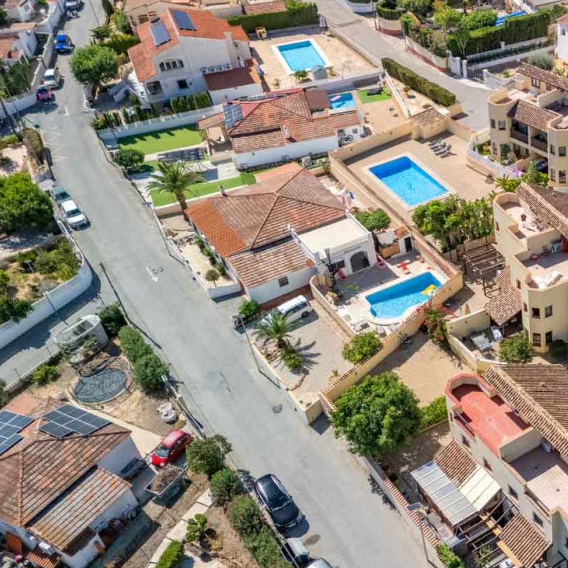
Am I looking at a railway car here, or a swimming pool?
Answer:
swimming pool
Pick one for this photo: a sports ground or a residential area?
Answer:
residential area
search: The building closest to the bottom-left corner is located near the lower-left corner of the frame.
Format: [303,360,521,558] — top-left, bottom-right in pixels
[0,400,141,568]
